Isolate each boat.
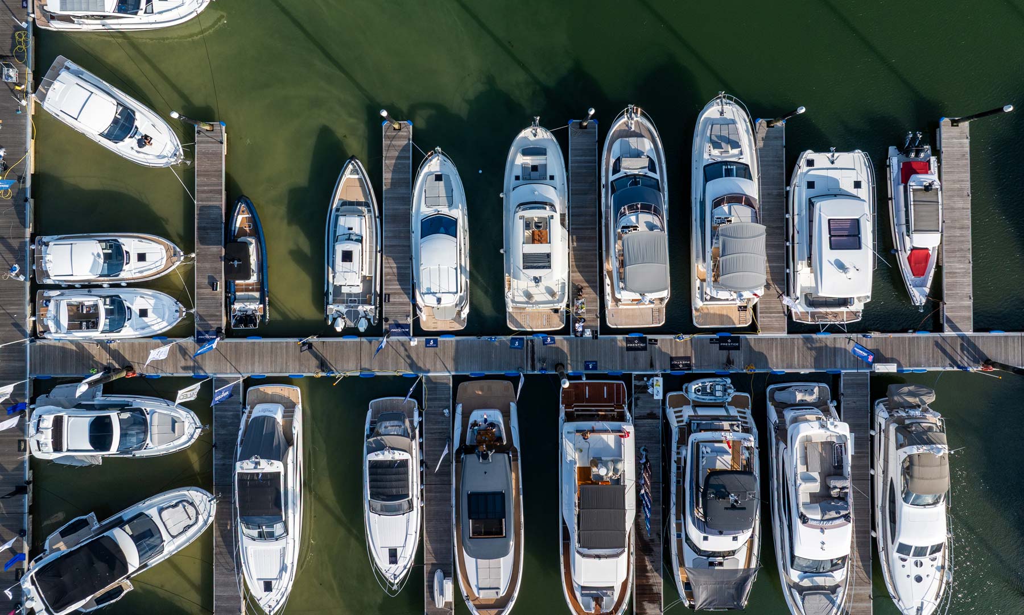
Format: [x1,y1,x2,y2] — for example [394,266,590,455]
[558,379,635,615]
[35,0,214,32]
[225,194,270,328]
[324,156,382,331]
[14,490,227,615]
[35,232,195,284]
[503,115,568,330]
[764,382,856,615]
[683,377,734,404]
[234,384,306,615]
[785,147,891,333]
[600,102,669,328]
[689,91,766,328]
[37,287,198,340]
[453,380,523,615]
[772,384,818,402]
[870,397,965,615]
[883,130,943,311]
[364,397,422,598]
[664,391,769,612]
[409,145,470,330]
[36,56,191,167]
[18,383,211,469]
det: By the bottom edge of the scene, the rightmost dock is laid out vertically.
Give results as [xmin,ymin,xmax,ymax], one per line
[839,371,872,615]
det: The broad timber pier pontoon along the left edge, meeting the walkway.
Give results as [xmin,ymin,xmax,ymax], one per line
[0,0,37,615]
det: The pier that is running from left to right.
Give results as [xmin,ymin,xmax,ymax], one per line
[32,329,1024,380]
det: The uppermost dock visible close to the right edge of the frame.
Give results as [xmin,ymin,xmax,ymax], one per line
[935,116,973,333]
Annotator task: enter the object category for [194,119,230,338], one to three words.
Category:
pier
